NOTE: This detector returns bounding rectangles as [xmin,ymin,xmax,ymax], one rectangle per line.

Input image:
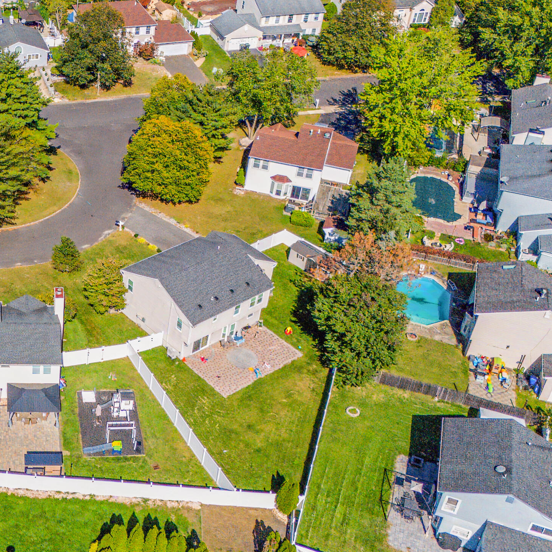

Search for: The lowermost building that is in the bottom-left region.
[23,443,65,474]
